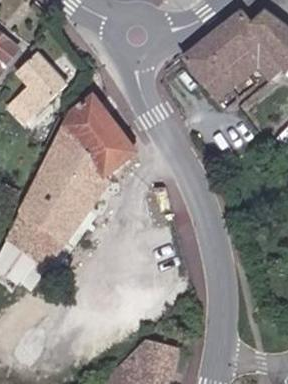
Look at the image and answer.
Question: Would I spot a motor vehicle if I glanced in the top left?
No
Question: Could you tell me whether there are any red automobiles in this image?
No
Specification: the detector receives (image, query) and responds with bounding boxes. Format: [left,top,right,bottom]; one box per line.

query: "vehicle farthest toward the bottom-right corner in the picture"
[158,257,181,270]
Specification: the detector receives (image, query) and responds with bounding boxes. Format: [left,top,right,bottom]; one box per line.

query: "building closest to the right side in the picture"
[184,8,288,112]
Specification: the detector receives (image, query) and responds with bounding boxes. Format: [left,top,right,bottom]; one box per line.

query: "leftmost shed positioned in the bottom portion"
[0,242,20,276]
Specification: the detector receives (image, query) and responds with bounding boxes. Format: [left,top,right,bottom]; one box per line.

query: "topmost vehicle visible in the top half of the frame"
[178,70,198,91]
